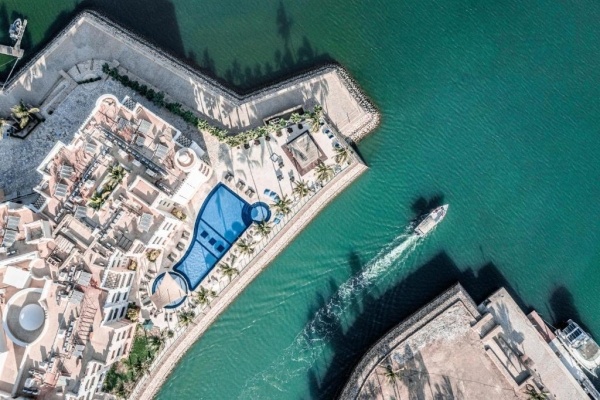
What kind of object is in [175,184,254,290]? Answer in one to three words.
swimming pool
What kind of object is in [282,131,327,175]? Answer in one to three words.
gazebo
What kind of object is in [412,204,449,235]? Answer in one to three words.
boat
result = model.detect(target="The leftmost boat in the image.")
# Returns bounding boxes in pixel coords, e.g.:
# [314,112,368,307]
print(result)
[12,14,25,33]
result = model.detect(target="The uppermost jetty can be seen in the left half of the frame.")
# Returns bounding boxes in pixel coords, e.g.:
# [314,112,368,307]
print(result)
[0,20,30,59]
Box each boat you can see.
[550,313,600,377]
[412,204,449,235]
[12,14,25,33]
